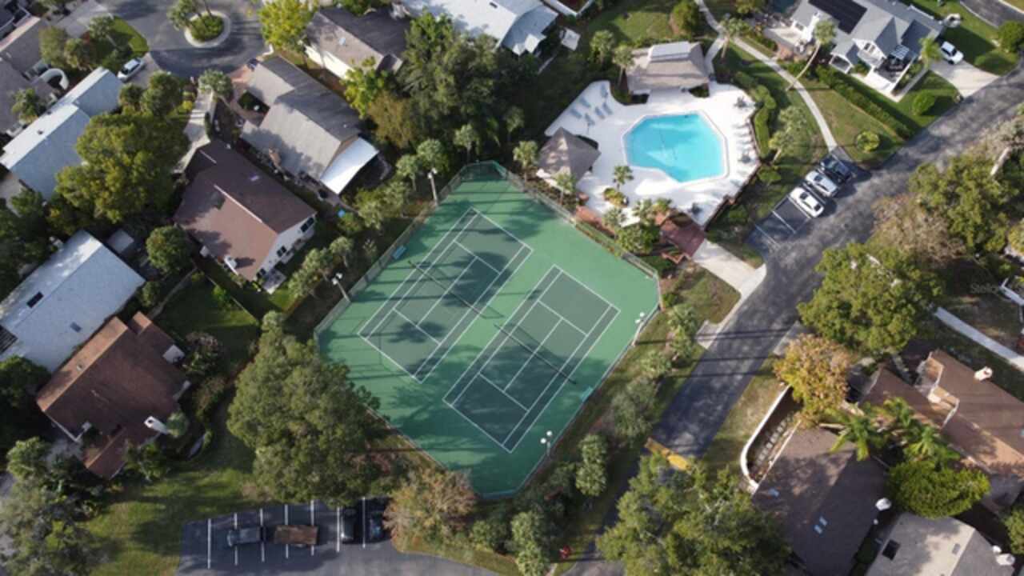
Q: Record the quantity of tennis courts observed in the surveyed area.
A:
2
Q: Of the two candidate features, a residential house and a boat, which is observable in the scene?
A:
residential house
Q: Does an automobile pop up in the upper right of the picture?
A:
Yes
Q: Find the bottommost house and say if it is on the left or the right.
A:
right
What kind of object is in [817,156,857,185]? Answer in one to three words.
truck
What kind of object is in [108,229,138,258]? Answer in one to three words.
shed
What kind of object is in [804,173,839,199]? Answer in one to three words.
car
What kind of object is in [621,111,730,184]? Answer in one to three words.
swimming pool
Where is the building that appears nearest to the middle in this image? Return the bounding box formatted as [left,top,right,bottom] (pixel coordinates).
[537,130,602,181]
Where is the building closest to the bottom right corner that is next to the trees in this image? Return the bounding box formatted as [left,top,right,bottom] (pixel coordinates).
[863,511,1016,576]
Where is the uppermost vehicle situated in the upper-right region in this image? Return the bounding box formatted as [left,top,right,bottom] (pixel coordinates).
[936,37,968,64]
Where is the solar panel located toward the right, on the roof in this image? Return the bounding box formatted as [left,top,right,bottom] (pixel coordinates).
[811,0,870,34]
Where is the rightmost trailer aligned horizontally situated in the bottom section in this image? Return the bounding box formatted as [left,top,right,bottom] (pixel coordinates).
[268,523,319,547]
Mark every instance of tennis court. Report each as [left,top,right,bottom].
[401,225,658,496]
[320,175,571,428]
